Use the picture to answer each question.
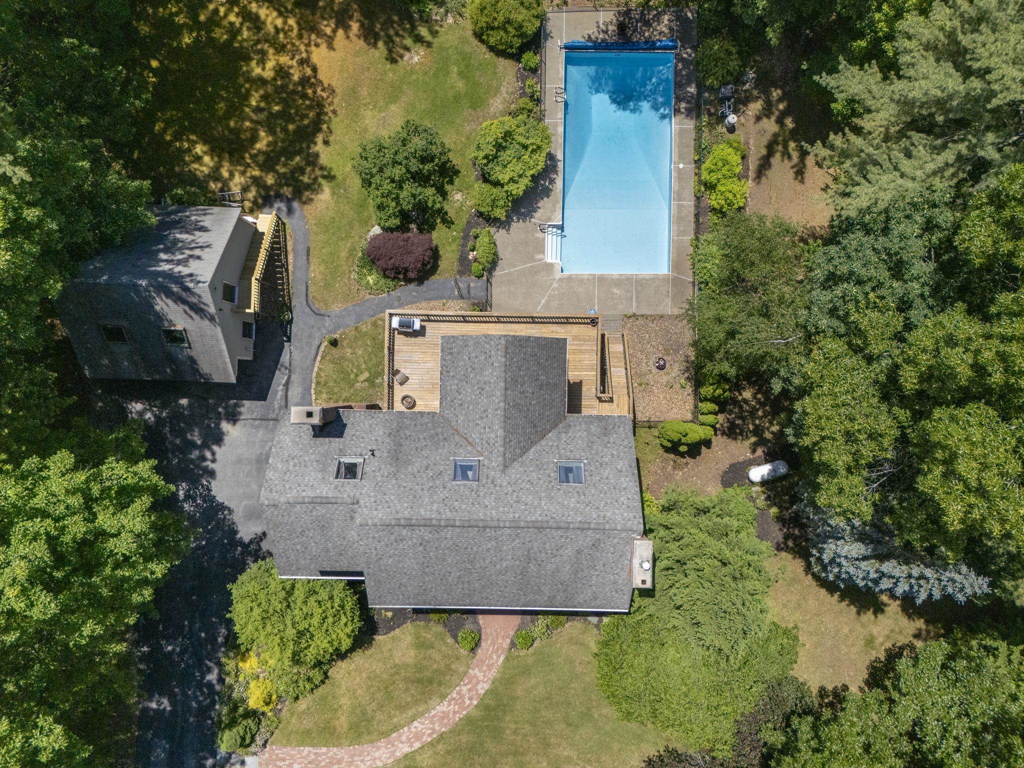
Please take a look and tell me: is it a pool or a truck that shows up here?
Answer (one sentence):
Of the two, only a pool appears.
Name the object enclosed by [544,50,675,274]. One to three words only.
swimming pool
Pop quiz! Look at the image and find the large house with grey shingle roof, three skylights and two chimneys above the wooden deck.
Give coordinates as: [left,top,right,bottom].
[259,334,653,614]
